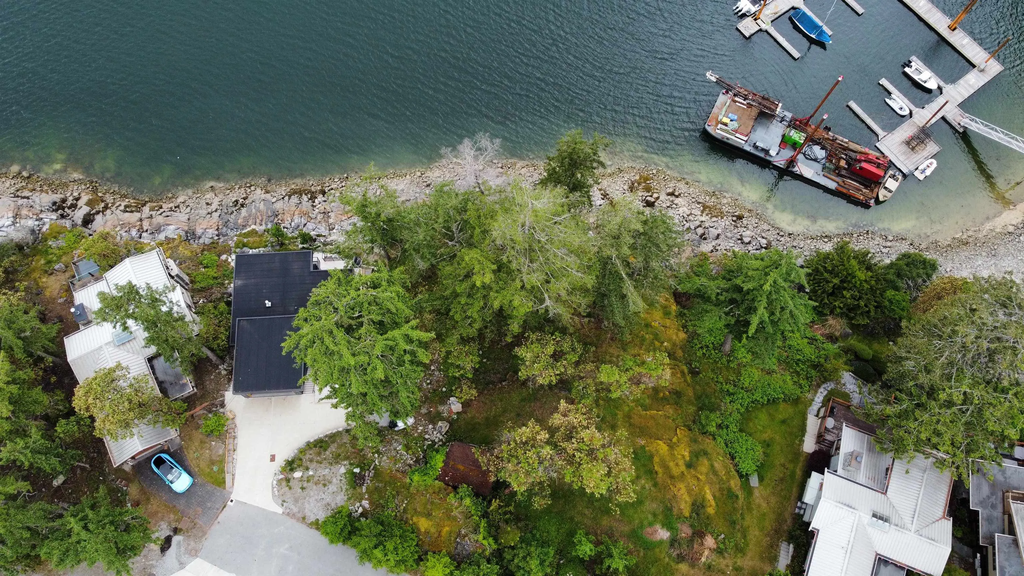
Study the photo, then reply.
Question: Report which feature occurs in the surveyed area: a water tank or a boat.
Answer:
boat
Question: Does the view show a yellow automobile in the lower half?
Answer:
No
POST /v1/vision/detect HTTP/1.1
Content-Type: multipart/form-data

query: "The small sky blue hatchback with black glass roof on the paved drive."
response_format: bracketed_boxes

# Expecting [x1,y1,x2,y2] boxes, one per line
[146,449,191,496]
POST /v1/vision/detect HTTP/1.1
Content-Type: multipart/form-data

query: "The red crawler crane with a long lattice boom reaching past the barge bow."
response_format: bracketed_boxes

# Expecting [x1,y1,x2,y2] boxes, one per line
[703,68,892,190]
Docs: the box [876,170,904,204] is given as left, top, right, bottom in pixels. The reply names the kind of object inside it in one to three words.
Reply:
boat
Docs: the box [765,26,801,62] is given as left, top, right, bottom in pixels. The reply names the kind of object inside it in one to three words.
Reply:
pier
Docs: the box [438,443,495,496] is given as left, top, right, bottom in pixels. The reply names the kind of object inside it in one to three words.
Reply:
shed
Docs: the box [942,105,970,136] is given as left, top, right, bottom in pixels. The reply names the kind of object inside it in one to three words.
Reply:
pier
